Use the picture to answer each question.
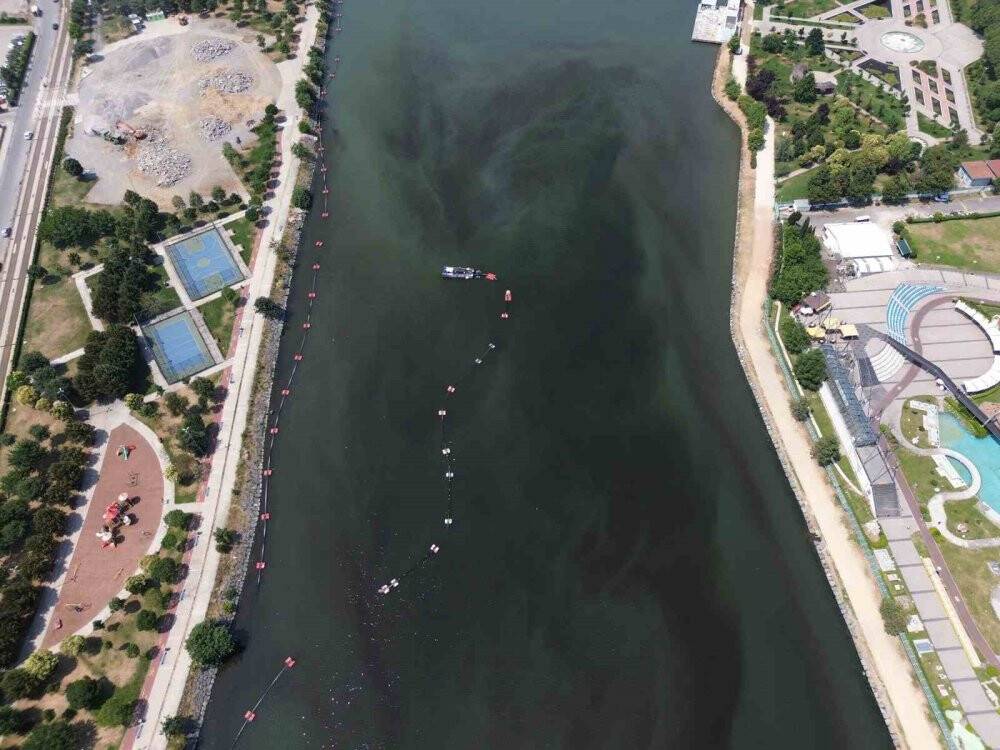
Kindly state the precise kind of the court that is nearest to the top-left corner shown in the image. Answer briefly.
basketball court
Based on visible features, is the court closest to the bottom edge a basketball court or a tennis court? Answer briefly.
tennis court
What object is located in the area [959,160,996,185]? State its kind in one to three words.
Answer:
house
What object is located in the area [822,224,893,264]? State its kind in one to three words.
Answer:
building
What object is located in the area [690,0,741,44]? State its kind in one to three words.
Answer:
pier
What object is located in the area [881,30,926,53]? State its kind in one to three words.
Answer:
fountain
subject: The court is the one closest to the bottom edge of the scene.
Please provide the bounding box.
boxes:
[137,302,216,385]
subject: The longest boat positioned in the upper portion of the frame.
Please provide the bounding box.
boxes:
[442,263,480,277]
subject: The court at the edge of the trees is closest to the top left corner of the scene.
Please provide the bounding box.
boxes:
[160,220,244,303]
